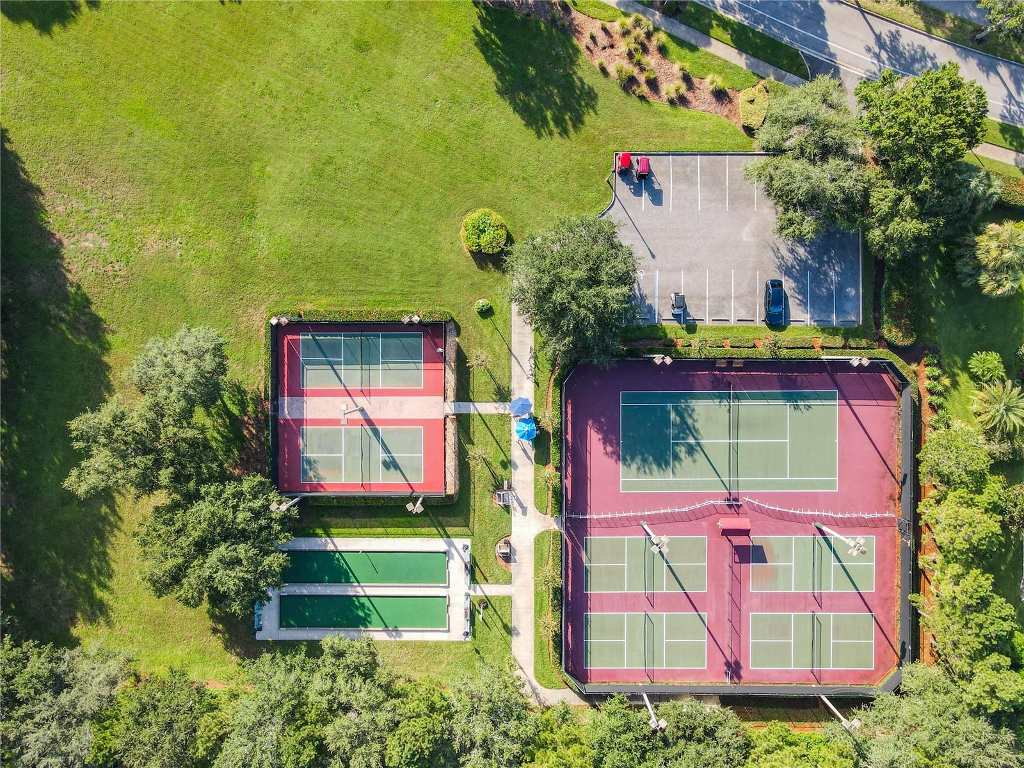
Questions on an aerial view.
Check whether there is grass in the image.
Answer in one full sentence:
Yes, the picture does contain grass.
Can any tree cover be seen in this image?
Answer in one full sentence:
Yes, there is tree cover in the image.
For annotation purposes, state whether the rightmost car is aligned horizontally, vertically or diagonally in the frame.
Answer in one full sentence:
The rightmost car is laid out vertically.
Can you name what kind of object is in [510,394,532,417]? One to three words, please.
umbrella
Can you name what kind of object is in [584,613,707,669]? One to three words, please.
sports court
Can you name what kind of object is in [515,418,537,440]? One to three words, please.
umbrella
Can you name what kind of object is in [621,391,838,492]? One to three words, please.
tennis court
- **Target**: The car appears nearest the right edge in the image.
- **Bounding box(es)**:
[765,280,787,325]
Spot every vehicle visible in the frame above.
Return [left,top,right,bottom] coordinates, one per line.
[635,158,649,182]
[670,293,685,315]
[765,280,787,325]
[616,155,630,179]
